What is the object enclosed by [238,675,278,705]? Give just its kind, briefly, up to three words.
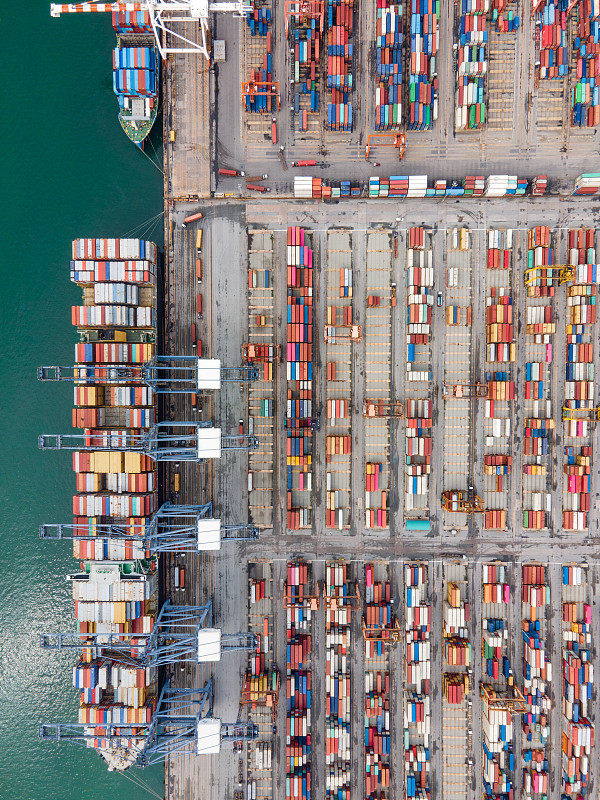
container crane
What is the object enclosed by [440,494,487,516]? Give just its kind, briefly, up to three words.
container crane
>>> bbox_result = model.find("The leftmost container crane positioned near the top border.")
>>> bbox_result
[51,0,248,69]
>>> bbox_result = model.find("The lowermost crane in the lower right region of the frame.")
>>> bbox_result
[478,681,527,712]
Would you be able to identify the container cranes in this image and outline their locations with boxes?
[320,584,362,609]
[440,494,487,516]
[441,382,488,401]
[34,672,259,770]
[34,593,259,673]
[34,496,259,552]
[34,417,259,462]
[523,265,574,288]
[284,1,323,38]
[242,342,282,362]
[34,356,259,399]
[360,614,404,641]
[238,675,278,705]
[280,584,320,609]
[284,415,323,434]
[322,324,363,344]
[478,681,527,712]
[363,133,407,162]
[51,0,248,69]
[241,82,281,113]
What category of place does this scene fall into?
port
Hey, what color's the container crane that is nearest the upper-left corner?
white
